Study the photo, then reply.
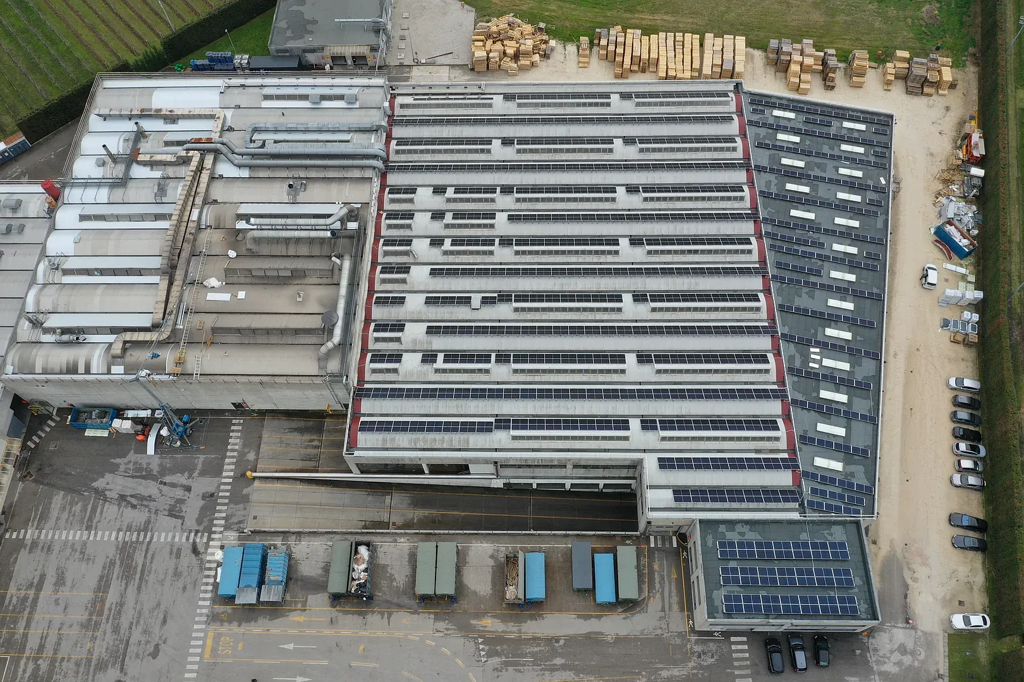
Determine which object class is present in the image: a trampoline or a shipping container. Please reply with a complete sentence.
Looking from above, you can make out a shipping container.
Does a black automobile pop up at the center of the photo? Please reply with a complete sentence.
No, no black automobile can be made out at the center of the photo.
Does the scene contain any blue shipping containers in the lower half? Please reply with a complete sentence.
Yes, you'll find a blue shipping container in the lower half.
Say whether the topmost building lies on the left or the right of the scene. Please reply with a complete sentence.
The topmost building is on the left side of the image.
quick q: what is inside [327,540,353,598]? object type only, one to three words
shipping container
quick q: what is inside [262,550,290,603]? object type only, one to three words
shipping container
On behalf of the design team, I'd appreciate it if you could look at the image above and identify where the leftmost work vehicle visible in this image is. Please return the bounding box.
[132,421,149,444]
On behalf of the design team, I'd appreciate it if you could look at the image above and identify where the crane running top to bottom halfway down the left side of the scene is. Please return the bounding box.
[121,264,200,446]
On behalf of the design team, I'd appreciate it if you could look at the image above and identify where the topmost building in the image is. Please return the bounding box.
[268,0,392,61]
